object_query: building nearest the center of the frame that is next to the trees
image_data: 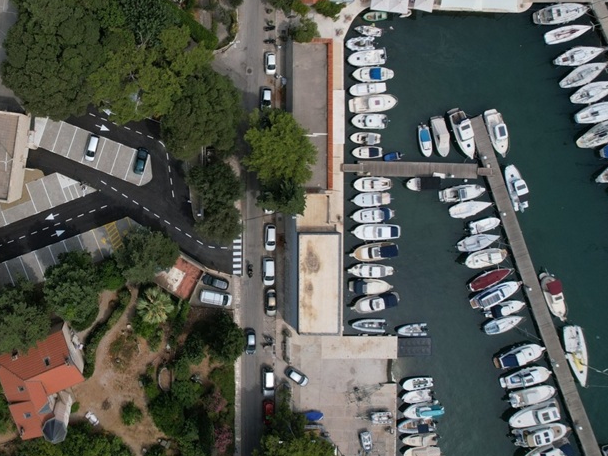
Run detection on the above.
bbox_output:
[287,228,341,335]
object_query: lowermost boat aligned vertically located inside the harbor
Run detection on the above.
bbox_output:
[361,430,374,456]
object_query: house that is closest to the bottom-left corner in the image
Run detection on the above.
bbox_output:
[0,318,85,441]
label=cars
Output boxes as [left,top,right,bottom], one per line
[133,146,149,177]
[264,287,278,316]
[84,133,101,162]
[263,204,275,217]
[262,256,275,285]
[262,396,273,422]
[260,86,273,112]
[200,273,230,291]
[244,328,257,353]
[283,366,309,387]
[261,365,275,396]
[264,51,277,77]
[263,223,277,252]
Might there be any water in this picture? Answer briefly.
Yes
